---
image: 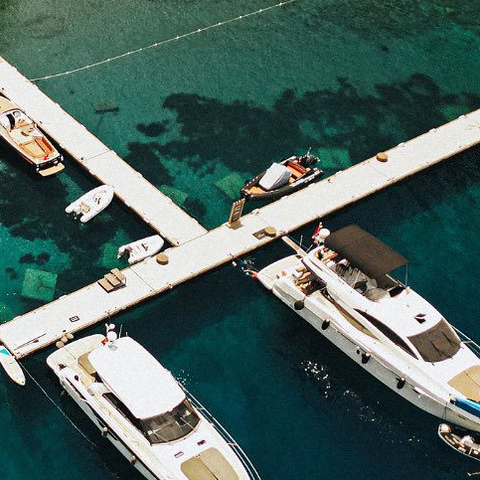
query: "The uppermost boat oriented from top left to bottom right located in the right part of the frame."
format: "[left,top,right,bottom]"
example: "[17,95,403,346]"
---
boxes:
[264,222,480,433]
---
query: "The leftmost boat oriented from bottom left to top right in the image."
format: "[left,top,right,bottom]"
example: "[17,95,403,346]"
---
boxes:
[64,184,116,223]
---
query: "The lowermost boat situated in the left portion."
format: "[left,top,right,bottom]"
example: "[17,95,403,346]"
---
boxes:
[52,319,254,480]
